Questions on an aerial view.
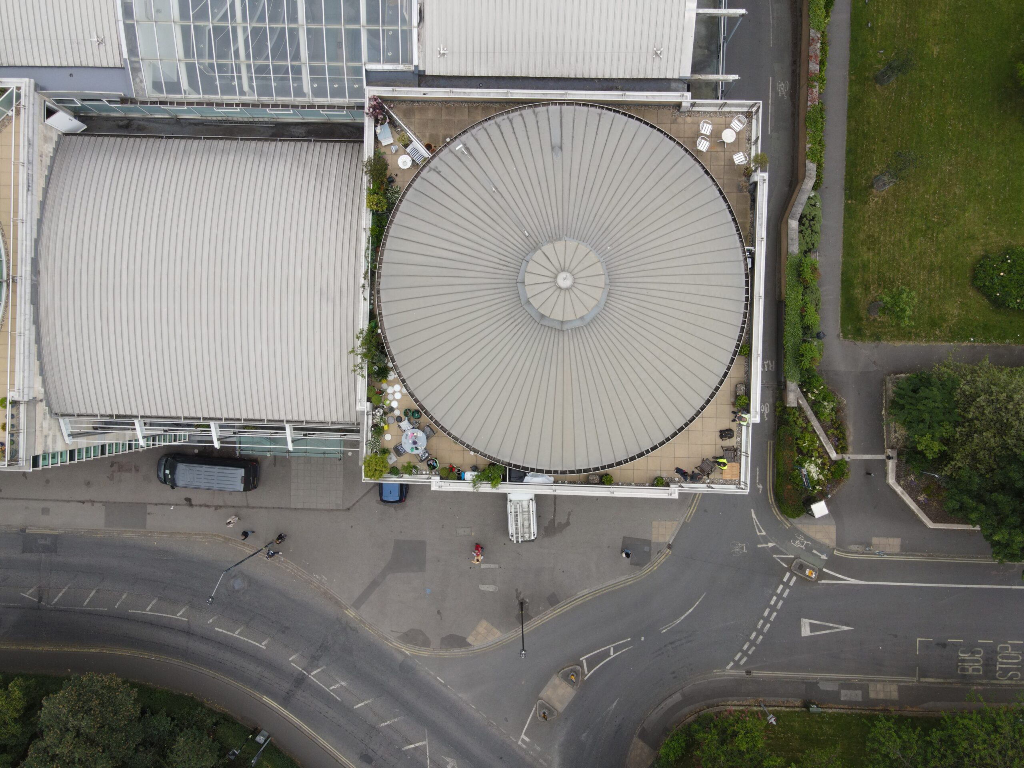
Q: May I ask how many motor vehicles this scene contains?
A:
3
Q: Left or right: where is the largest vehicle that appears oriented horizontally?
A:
left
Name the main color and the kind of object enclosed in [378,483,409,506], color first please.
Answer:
blue car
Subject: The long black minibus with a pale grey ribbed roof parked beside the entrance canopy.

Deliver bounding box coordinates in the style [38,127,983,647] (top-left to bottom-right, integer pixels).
[152,449,262,491]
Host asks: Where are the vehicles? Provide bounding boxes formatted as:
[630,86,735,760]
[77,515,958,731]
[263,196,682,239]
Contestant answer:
[378,483,409,506]
[504,493,539,546]
[152,449,262,491]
